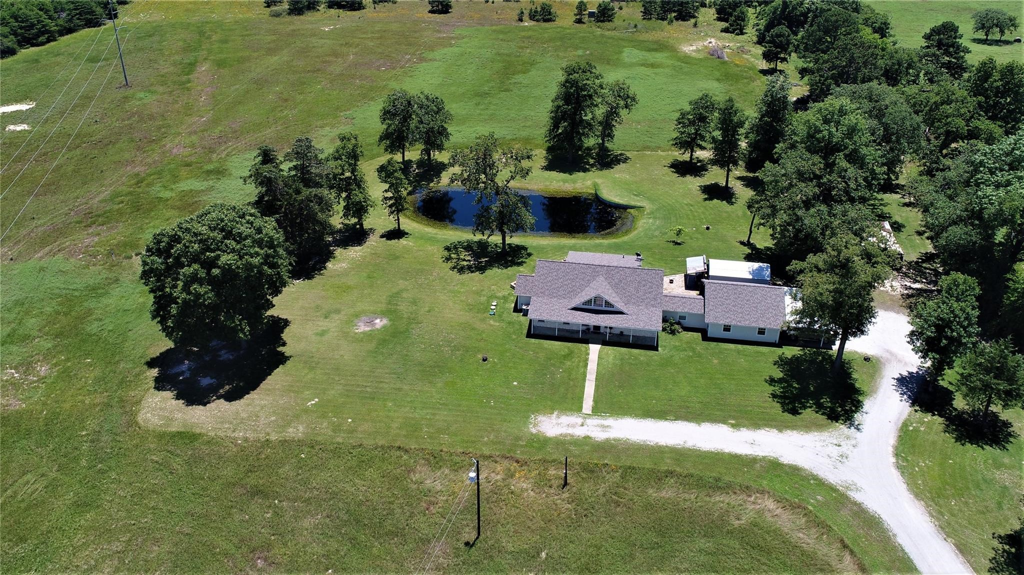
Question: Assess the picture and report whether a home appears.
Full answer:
Yes, a home can be made out from above.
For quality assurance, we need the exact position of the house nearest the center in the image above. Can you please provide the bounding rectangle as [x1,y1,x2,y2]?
[515,251,665,346]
